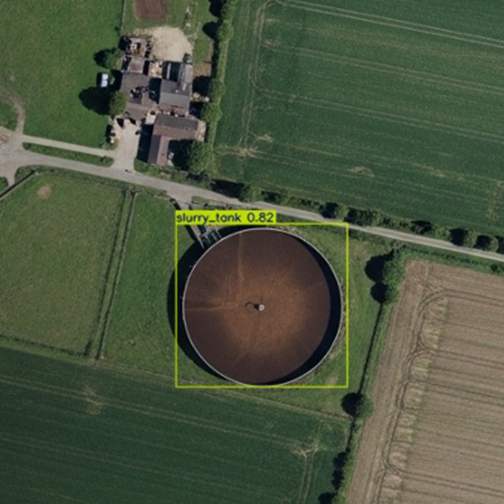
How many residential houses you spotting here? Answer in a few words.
3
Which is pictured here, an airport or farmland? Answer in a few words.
farmland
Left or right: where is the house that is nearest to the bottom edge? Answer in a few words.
left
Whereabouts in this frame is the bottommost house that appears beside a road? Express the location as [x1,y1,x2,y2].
[147,113,200,167]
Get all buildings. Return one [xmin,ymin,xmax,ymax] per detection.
[122,71,157,120]
[159,61,195,113]
[147,113,200,167]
